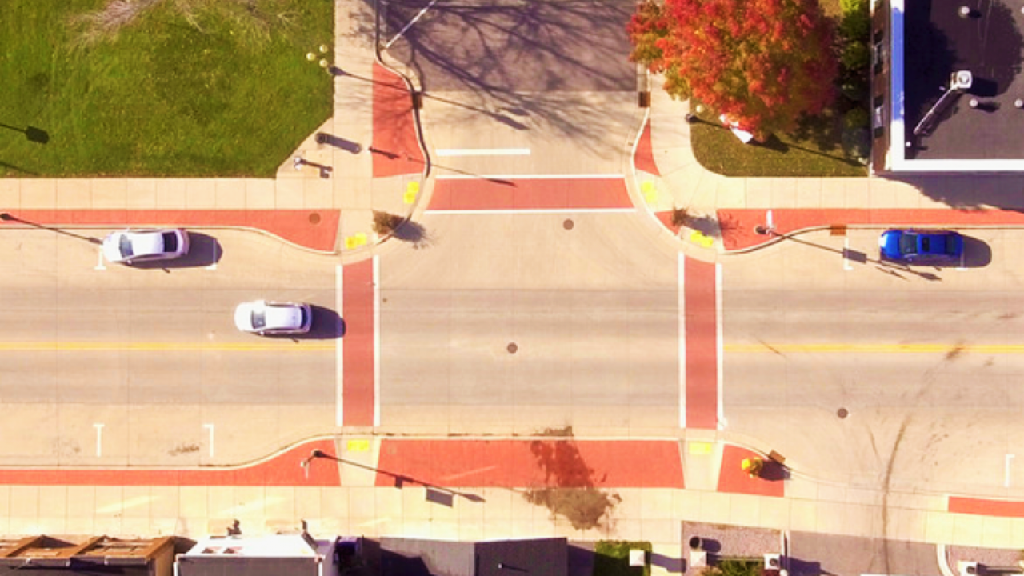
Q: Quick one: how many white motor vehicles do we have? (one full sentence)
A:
Altogether the scene contains 2 white motor vehicles.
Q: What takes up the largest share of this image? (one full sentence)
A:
The largest share of the image is taken up by paved ground.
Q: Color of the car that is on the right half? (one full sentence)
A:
From above, the car that is on the right half appears blue.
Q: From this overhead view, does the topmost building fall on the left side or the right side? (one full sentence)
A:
The topmost building appears in the right half of the scene.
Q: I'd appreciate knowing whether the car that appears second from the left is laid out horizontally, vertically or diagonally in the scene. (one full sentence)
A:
From this overhead view, the car that appears second from the left appears to run horizontally.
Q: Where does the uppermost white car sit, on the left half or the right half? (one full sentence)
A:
The uppermost white car is on the left side of the image.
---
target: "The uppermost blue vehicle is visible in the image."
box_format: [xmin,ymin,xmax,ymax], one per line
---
[879,227,965,264]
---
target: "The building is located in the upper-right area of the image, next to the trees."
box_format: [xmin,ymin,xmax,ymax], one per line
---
[870,0,1024,179]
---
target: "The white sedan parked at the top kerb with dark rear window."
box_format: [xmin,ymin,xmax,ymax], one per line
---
[103,227,190,264]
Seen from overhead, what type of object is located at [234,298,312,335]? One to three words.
car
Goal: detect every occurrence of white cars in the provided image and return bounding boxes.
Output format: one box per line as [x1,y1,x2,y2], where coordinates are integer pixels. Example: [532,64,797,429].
[234,298,312,335]
[103,227,190,264]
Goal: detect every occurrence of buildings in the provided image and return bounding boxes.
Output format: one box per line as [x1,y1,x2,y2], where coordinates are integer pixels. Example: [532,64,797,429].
[870,0,1024,179]
[176,534,326,576]
[0,535,171,576]
[474,545,569,576]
